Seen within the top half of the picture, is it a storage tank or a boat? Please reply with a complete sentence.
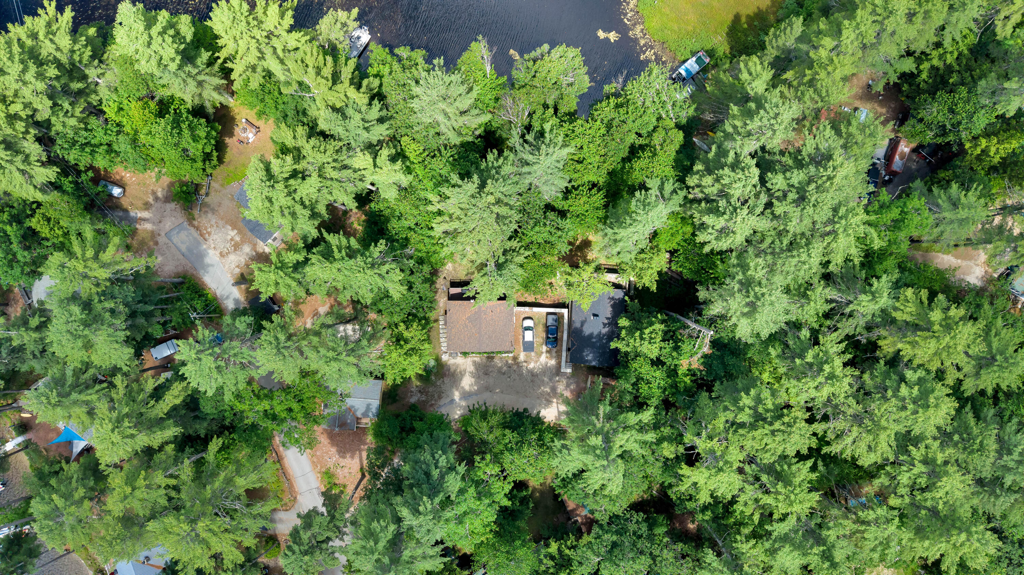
You can see a boat within the top half of the picture.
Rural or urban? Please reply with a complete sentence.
It looks rural.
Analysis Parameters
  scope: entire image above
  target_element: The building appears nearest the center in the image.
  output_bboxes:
[445,287,514,352]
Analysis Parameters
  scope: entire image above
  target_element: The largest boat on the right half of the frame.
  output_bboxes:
[671,48,712,87]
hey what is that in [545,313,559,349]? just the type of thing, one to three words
vehicle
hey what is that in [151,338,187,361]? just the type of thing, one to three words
camper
